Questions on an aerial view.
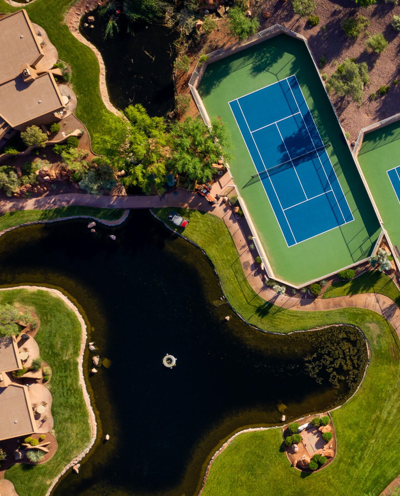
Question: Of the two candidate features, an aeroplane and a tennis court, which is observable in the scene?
tennis court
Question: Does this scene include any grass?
Yes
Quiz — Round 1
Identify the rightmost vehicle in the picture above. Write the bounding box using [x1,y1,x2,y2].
[196,183,217,203]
